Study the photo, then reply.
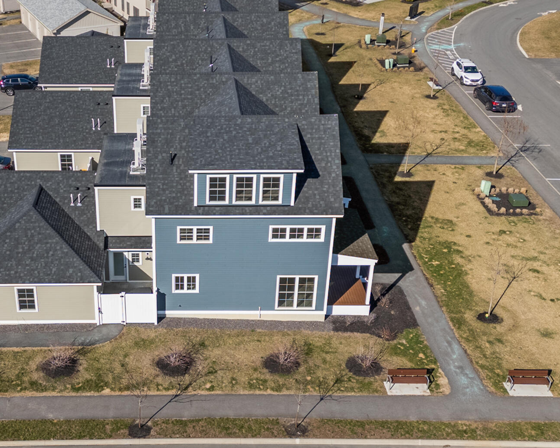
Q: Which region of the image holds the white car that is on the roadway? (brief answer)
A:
top right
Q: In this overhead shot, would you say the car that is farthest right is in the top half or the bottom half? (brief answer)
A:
top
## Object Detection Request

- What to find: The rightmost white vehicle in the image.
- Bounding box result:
[449,56,488,86]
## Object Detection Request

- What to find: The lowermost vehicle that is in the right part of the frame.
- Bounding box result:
[472,83,517,112]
